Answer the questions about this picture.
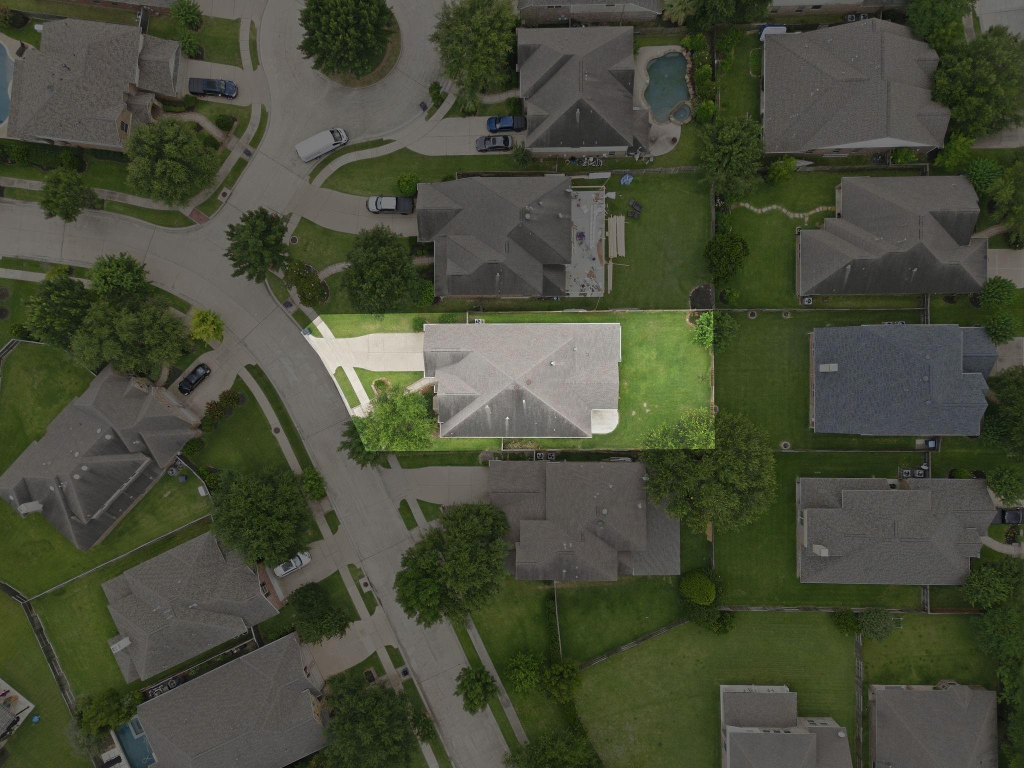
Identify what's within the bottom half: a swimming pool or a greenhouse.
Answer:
swimming pool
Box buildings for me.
[421,322,621,438]
[488,460,681,582]
[806,324,1003,435]
[415,174,572,297]
[717,685,851,768]
[516,22,651,159]
[101,535,283,684]
[6,21,186,150]
[137,630,333,768]
[758,17,957,157]
[0,367,201,552]
[793,477,1002,585]
[868,680,997,768]
[795,175,992,295]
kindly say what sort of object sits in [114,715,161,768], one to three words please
swimming pool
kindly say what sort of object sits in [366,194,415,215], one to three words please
truck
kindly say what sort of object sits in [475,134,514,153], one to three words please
car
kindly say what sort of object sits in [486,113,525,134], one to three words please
truck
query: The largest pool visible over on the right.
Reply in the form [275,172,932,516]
[641,49,692,125]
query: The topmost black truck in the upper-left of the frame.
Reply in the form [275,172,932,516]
[187,78,238,100]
